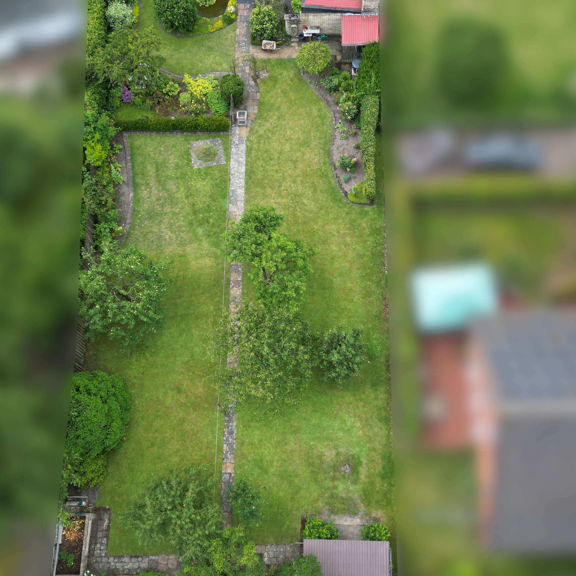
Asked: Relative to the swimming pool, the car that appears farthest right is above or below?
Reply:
above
